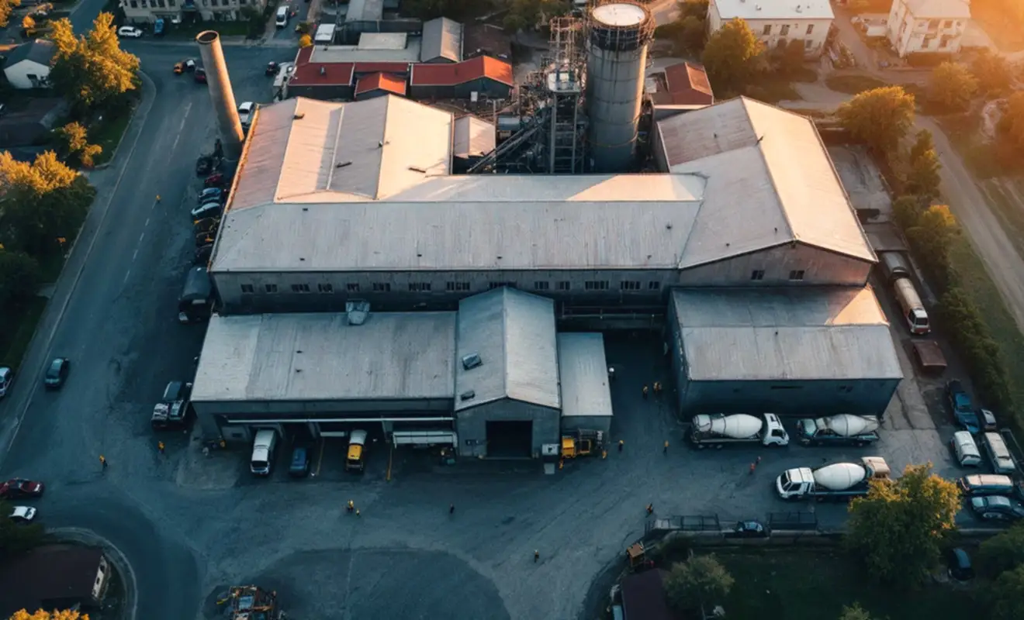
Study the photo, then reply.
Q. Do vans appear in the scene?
Yes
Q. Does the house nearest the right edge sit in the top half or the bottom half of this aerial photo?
top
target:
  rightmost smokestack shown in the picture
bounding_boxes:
[194,31,244,168]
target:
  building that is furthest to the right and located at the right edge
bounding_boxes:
[884,0,979,55]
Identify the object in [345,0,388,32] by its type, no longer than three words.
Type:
shed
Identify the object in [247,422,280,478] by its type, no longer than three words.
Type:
van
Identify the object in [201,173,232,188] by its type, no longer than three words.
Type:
car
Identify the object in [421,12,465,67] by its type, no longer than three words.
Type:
shed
